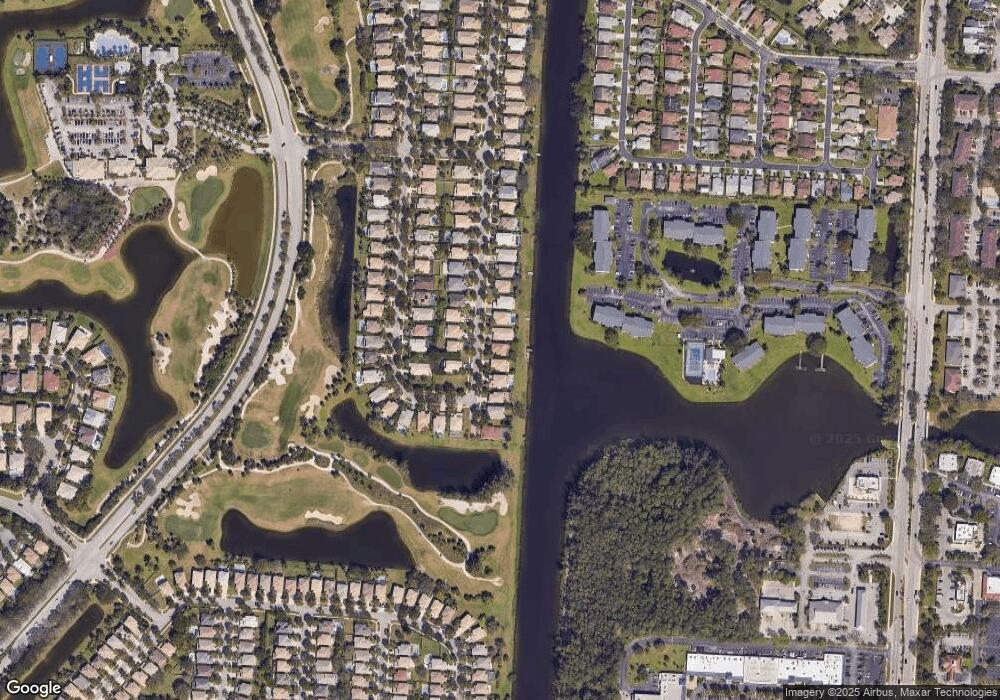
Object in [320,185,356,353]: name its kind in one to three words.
pond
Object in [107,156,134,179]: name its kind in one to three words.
building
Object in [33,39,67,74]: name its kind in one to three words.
tennis court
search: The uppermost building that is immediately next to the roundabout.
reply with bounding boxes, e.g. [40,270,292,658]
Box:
[142,46,179,64]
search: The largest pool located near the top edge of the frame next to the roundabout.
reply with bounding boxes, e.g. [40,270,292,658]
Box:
[90,28,139,58]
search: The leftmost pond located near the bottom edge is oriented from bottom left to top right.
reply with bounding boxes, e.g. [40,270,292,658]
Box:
[6,604,104,700]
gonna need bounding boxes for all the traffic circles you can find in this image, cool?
[144,66,178,153]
